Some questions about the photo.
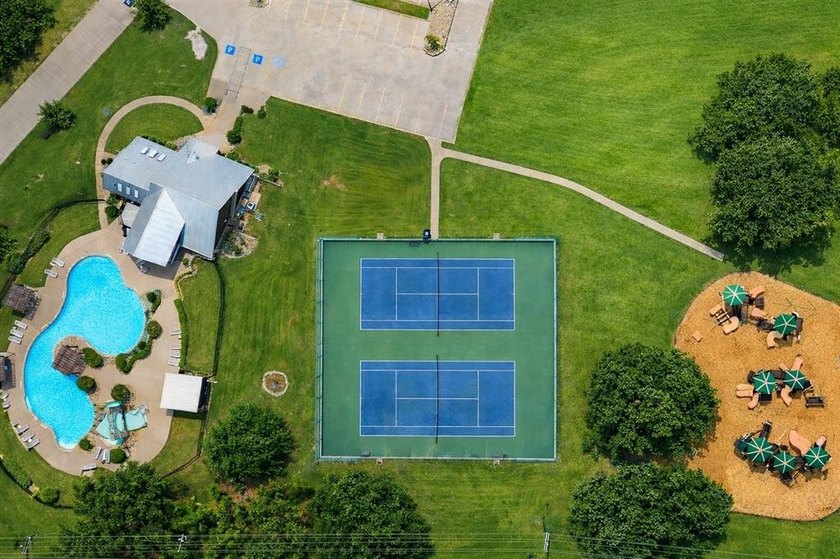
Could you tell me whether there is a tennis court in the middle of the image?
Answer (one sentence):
Yes, a tennis court can be seen in the middle of the image.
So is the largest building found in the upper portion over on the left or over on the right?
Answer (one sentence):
The largest building found in the upper portion is on the left side of the image.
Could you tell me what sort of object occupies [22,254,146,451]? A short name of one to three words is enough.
swimming pool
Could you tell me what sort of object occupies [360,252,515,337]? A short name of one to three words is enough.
tennis court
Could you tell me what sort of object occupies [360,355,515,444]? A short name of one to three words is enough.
tennis court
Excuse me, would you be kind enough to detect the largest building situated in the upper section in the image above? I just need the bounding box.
[103,135,254,267]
